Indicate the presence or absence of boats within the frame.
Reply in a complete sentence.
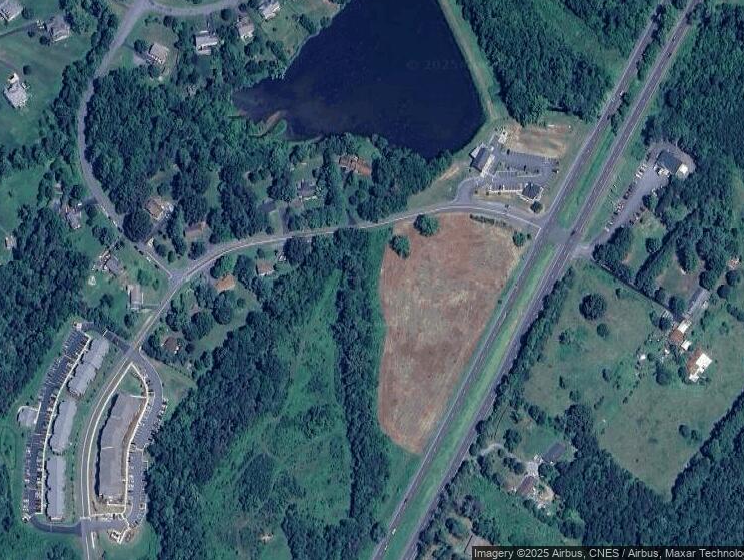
No, the scene contains no boat.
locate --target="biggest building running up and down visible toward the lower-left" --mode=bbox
[97,395,142,501]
